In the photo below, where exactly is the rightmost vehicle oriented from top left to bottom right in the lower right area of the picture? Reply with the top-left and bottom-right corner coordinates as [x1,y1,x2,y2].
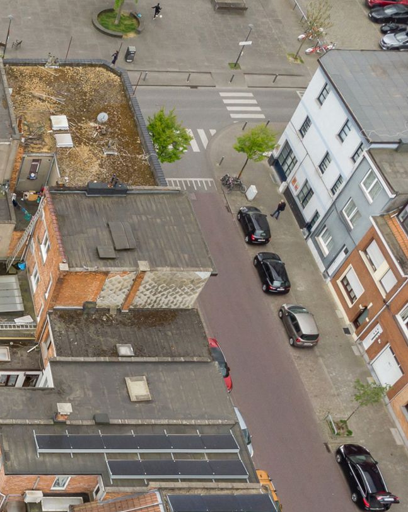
[334,443,407,512]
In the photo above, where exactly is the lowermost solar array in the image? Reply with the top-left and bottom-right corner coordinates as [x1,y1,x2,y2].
[164,491,275,512]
